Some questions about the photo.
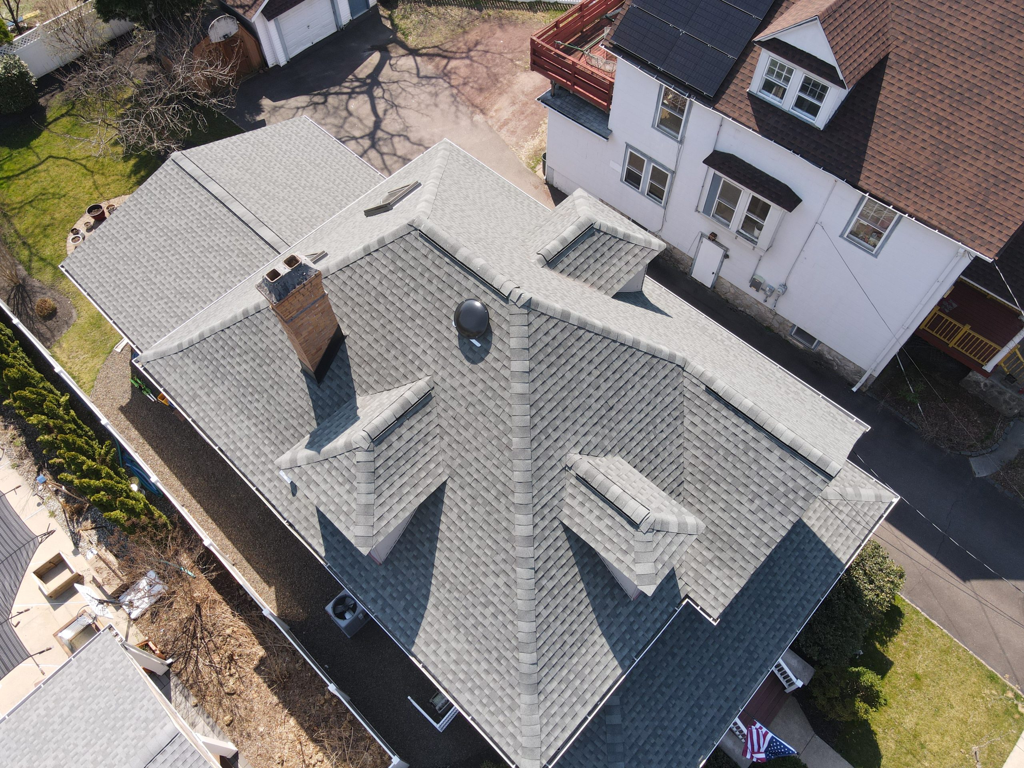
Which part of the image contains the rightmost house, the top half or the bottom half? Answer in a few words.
top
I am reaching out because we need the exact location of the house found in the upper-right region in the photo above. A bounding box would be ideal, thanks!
[528,0,1024,407]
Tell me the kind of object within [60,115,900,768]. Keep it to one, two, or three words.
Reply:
house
